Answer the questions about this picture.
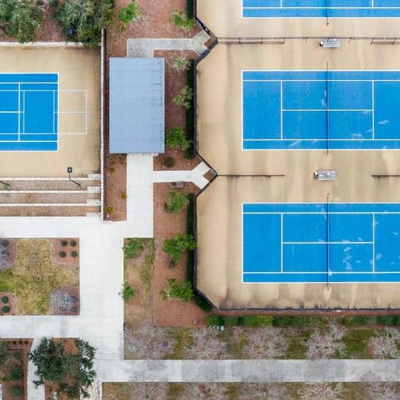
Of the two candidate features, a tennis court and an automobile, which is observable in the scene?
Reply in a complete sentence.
I can see a tennis court in this picture.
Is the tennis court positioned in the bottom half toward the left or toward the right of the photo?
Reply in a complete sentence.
The tennis court positioned in the bottom half appears in the right half of the scene.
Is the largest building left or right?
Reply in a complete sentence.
You can find the largest building on the left side of the picture.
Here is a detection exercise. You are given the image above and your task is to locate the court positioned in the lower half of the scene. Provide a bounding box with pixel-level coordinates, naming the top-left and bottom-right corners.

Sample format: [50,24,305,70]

[197,175,400,309]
